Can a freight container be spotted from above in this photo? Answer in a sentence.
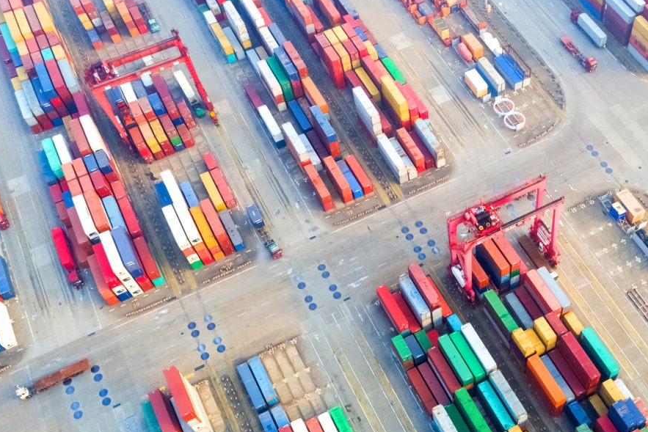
Yes, a freight container can be made out from above.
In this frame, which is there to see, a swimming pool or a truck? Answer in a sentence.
Visible in the photo is a truck.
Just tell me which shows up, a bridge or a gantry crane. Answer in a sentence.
There is a gantry crane in the scene.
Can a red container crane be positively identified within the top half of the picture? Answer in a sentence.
Yes, you'll find a red container crane within the top half of the picture.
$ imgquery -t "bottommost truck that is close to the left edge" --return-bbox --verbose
[17,360,94,404]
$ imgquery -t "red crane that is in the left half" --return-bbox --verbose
[76,27,222,160]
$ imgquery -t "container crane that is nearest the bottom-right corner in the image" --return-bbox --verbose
[442,168,565,308]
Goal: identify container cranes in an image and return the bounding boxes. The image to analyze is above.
[442,168,565,308]
[76,27,222,160]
